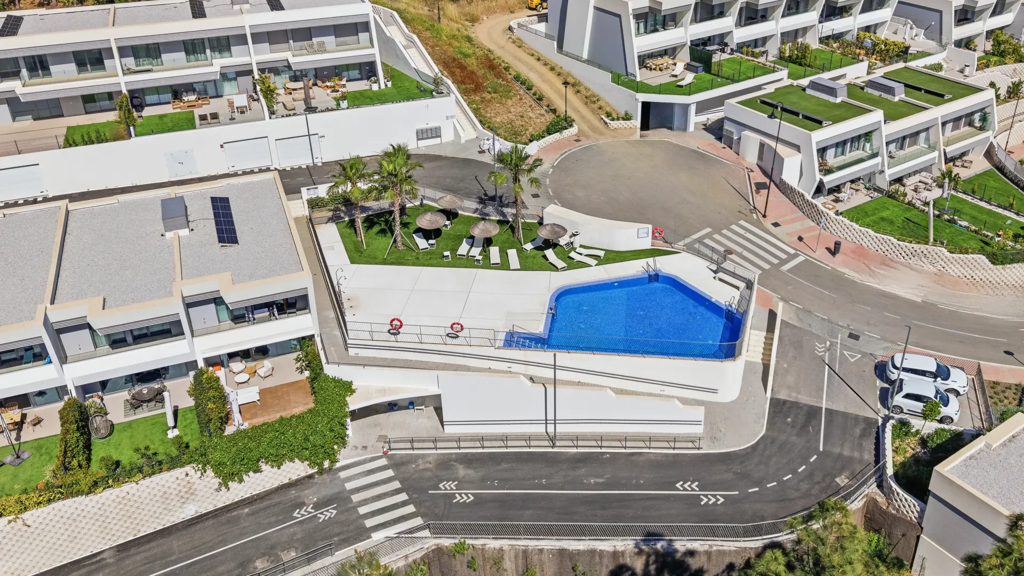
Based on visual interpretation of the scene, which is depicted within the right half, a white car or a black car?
white car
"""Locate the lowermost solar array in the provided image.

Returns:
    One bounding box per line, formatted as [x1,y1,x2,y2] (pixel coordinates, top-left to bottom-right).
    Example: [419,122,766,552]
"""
[217,192,240,246]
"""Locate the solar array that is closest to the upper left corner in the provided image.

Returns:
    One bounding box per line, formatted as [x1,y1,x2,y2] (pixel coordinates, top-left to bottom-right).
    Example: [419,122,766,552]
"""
[0,11,22,37]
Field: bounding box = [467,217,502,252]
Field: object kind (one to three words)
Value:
umbrella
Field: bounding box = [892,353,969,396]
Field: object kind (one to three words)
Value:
car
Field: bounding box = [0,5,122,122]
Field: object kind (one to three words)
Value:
house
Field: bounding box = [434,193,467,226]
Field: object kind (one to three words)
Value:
umbrella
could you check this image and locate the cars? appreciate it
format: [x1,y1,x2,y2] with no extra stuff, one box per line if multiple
[894,386,961,428]
[892,353,969,396]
